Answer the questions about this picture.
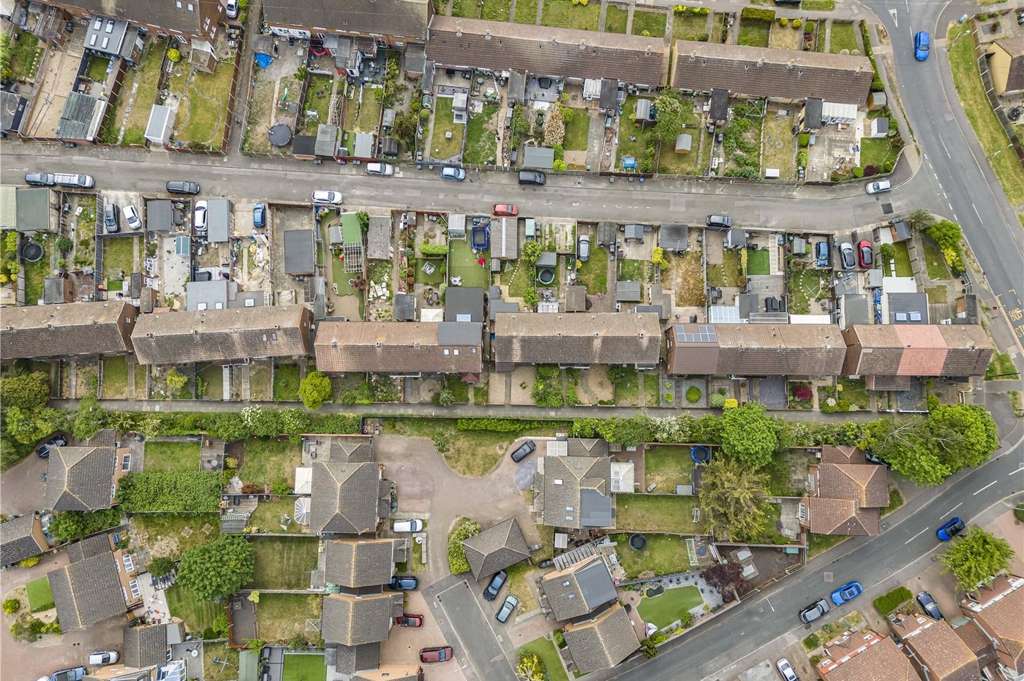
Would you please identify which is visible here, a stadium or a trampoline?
trampoline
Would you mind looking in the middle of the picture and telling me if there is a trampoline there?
Yes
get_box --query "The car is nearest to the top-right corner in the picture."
[912,32,928,60]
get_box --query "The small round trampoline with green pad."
[538,268,555,284]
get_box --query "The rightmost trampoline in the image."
[689,446,710,464]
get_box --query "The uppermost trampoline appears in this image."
[269,123,293,146]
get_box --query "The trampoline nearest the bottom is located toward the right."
[628,534,650,555]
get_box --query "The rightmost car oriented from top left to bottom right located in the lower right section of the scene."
[915,588,942,620]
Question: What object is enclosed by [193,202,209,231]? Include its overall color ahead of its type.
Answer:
white car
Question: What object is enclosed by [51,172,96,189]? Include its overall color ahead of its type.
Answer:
white vehicle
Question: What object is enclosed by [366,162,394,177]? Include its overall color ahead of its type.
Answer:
white car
